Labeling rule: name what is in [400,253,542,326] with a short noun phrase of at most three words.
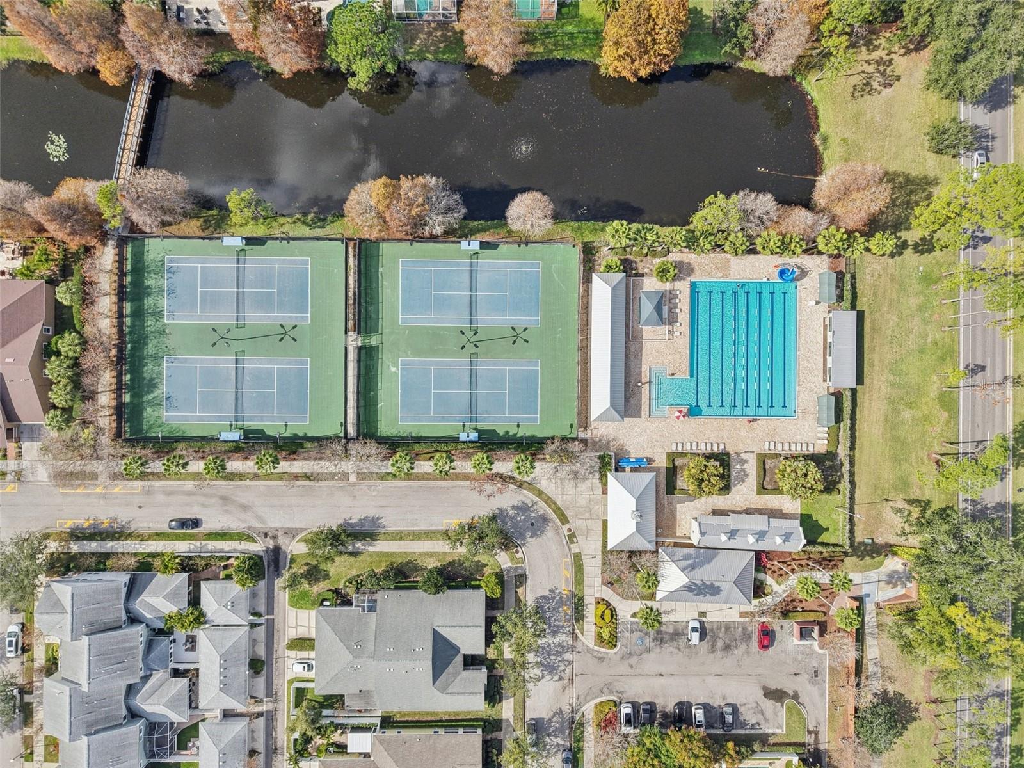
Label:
tennis court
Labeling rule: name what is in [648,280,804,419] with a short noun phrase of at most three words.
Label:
swimming pool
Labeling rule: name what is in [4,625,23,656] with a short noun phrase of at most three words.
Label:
car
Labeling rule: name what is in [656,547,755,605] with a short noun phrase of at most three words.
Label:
building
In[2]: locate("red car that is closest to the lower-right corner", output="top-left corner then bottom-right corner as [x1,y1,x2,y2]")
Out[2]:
[757,622,772,651]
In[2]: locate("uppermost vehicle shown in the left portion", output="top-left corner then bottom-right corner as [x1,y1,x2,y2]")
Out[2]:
[169,517,200,531]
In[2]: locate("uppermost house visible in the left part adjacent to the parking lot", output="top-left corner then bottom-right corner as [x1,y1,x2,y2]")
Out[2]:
[316,587,485,710]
